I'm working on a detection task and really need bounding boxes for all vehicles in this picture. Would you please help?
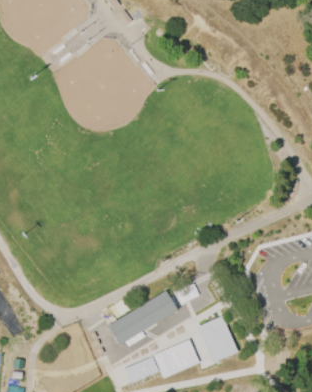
[303,238,312,246]
[298,262,308,274]
[297,239,307,248]
[258,248,268,257]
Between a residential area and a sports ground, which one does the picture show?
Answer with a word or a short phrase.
sports ground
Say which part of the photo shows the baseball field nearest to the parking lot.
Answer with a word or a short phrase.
center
